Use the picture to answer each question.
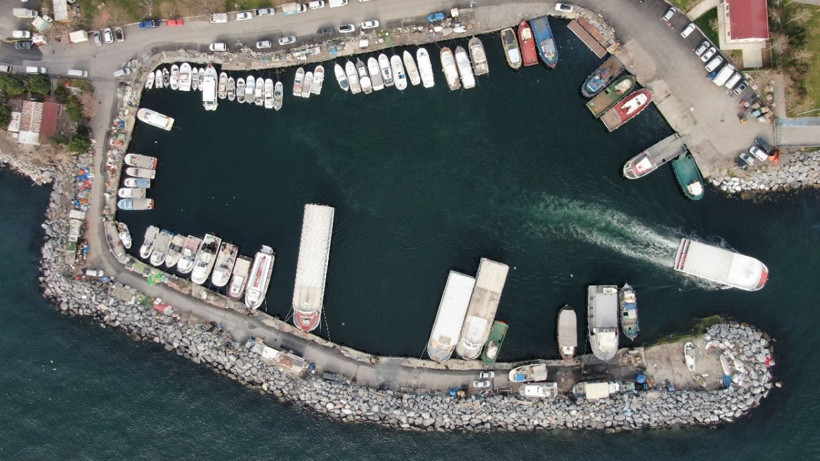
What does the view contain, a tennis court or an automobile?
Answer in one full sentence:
This aerial view contains an automobile.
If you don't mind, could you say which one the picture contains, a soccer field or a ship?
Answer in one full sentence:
I can see a ship in this picture.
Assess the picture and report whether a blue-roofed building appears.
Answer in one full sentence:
No, I can see no blue-roofed building in this picture.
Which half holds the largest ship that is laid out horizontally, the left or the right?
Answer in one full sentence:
It is on the right.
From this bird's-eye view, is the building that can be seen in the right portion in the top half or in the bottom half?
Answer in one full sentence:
The building that can be seen in the right portion sits in the top half of the picture.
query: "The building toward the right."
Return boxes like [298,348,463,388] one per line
[718,0,769,50]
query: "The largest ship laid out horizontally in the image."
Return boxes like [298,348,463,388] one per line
[672,239,770,287]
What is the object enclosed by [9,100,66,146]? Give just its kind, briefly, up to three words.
house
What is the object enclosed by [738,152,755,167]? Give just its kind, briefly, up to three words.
car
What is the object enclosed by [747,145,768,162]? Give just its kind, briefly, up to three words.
vehicle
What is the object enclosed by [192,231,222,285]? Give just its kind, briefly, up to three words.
boat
